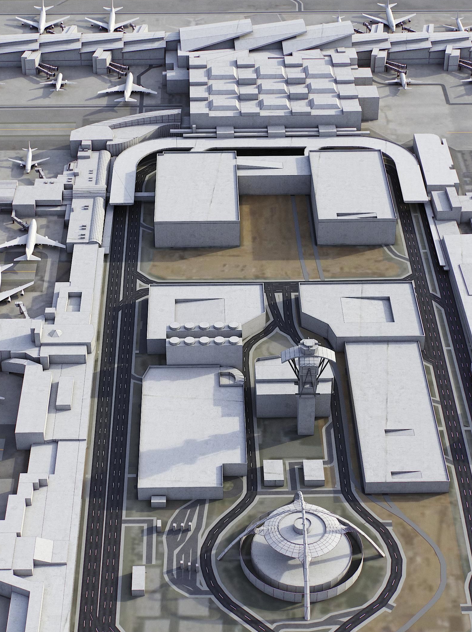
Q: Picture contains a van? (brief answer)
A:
No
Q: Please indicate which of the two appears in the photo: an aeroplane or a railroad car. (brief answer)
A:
aeroplane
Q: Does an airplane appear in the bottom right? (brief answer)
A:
No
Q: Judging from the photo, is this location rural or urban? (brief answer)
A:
urban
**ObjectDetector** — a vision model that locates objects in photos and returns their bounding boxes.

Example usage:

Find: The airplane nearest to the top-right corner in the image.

[443,10,472,32]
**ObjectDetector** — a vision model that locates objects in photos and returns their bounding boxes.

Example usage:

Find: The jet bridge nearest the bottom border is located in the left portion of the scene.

[14,301,30,318]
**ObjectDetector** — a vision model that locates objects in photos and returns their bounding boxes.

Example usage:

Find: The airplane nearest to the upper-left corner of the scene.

[15,5,70,34]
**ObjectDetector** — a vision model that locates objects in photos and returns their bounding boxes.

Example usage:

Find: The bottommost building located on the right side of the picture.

[218,491,386,618]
